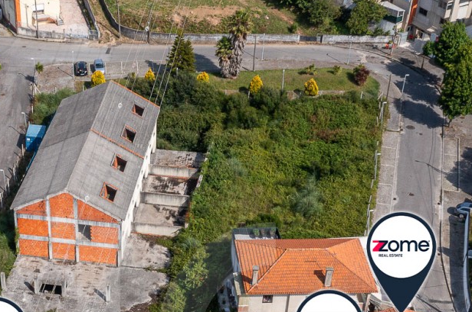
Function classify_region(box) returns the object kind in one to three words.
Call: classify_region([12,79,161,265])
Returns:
building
